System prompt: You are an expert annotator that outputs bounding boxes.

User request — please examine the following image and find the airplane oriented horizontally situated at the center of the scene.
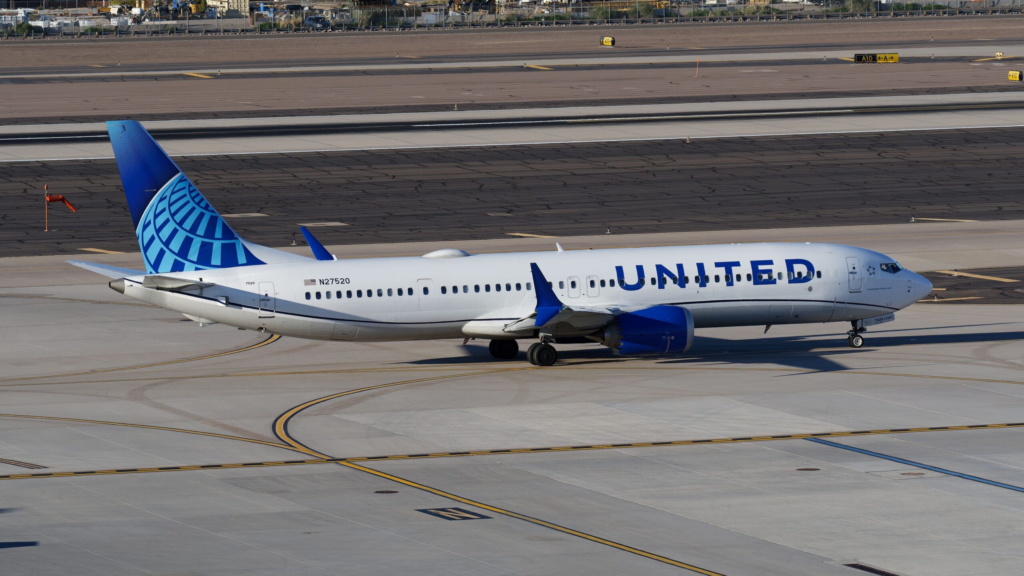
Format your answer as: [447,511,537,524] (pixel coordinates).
[67,120,933,367]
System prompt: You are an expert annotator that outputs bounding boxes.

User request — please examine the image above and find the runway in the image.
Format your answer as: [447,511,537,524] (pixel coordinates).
[0,92,1024,161]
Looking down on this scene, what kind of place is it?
airport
